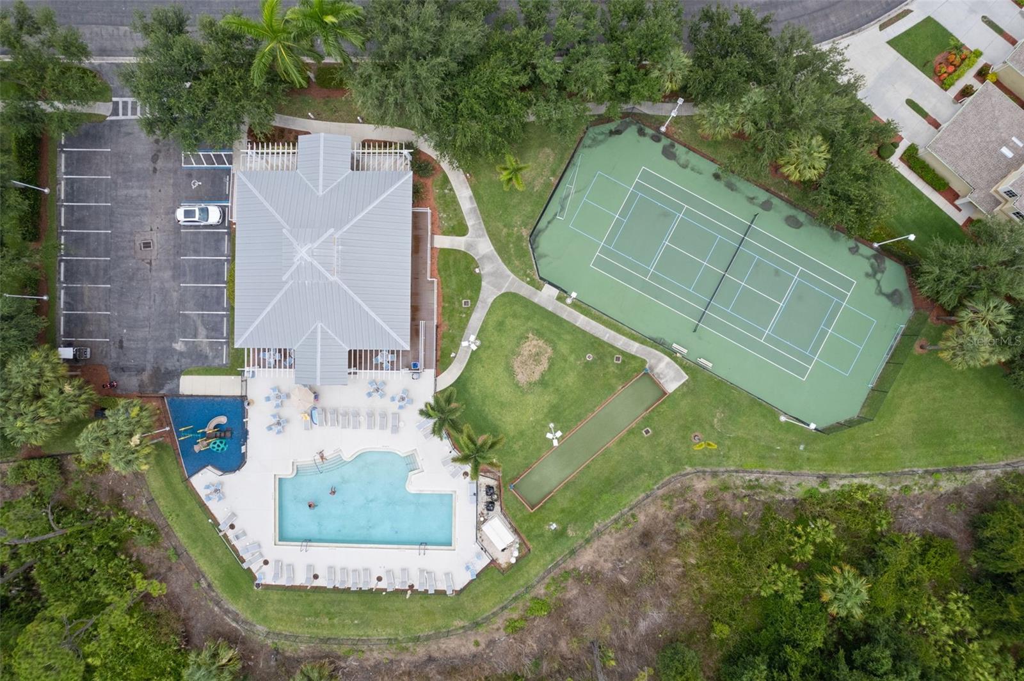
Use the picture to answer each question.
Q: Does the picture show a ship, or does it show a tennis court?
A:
tennis court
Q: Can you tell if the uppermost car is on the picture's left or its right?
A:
left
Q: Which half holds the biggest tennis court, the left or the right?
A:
right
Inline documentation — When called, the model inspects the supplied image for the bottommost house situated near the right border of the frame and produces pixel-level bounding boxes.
[917,79,1024,253]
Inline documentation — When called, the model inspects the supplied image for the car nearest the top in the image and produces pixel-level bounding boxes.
[174,204,226,227]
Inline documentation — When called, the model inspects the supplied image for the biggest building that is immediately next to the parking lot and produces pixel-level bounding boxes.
[233,132,414,385]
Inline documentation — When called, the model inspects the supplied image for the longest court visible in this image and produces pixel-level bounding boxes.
[529,118,914,430]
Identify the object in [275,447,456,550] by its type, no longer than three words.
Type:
swimming pool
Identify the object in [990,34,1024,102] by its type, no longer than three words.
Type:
house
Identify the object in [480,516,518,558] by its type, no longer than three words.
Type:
shed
